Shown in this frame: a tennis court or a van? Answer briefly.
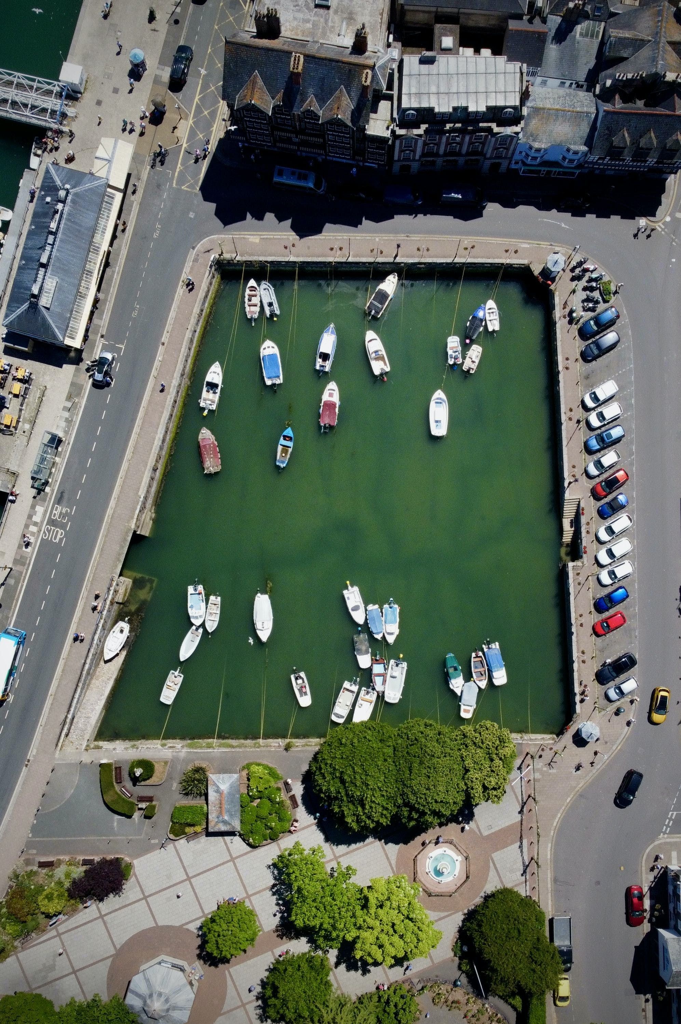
van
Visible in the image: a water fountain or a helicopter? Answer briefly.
water fountain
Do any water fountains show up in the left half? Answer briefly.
No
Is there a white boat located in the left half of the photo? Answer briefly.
Yes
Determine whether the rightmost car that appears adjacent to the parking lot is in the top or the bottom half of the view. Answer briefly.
bottom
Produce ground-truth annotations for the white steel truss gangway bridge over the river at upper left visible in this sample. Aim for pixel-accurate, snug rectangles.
[0,69,78,133]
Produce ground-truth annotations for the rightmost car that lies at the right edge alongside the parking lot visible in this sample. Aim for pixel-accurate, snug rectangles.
[649,687,672,724]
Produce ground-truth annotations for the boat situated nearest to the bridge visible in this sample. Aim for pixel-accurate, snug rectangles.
[30,137,42,170]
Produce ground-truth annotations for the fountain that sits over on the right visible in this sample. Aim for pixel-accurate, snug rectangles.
[413,835,474,901]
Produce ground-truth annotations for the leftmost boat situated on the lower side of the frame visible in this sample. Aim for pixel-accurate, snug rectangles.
[104,616,130,661]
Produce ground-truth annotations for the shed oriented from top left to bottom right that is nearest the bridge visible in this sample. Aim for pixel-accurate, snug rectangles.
[49,36,90,99]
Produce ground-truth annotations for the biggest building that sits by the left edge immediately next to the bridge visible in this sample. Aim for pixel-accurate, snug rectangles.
[2,162,123,353]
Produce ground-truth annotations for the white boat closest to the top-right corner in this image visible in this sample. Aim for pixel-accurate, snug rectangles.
[487,300,499,338]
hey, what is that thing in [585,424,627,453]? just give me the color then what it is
blue car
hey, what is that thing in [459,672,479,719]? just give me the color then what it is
white boat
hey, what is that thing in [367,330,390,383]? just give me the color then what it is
white boat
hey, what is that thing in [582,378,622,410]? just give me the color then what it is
white van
